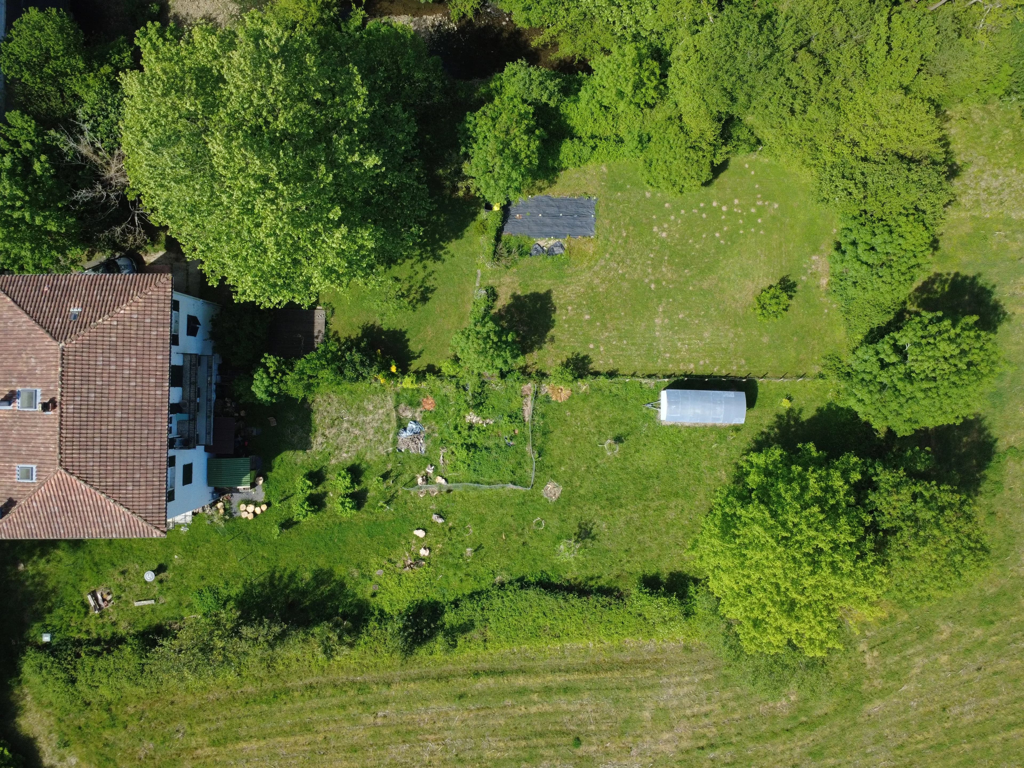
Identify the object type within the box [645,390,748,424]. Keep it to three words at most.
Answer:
trailer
